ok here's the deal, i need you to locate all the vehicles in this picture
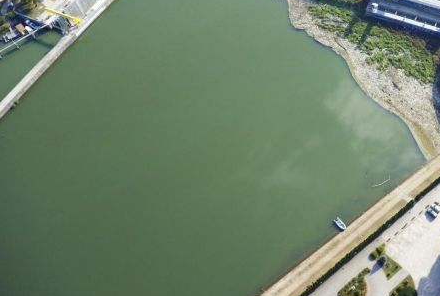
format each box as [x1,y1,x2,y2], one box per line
[431,203,440,212]
[426,207,437,217]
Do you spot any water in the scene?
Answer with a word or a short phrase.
Yes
